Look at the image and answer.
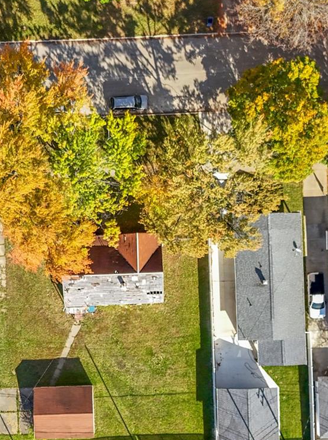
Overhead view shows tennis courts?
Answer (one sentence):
No, no tennis court can be seen from above.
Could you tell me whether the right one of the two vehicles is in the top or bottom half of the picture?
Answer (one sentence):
The bottom half of the photo is where the right one of the two vehicles is.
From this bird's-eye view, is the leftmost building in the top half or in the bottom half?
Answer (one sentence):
The leftmost building sits in the bottom half of the picture.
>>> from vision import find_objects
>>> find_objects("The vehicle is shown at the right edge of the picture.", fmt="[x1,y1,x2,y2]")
[308,272,328,320]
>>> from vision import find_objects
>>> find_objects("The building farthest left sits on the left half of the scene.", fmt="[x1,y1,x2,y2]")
[33,385,95,439]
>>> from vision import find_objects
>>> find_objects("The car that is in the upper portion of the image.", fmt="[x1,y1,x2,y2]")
[109,92,147,112]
